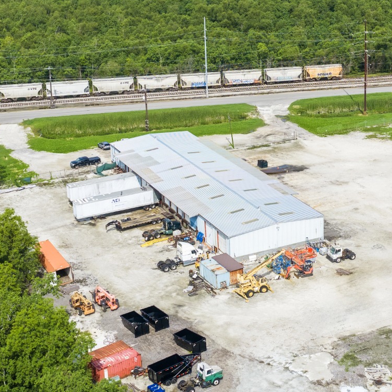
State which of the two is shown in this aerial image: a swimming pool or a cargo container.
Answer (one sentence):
It is a cargo container that can be seen here.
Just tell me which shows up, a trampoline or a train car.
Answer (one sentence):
The image shows a train car.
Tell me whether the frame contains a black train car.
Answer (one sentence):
No, there isn't any black train car down there.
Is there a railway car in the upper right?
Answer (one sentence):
Yes, you'll find a railway car in the upper right.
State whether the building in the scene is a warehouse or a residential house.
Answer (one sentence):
The building in the image is a warehouse.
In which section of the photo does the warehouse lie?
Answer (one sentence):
The warehouse is located in the center region of the scene.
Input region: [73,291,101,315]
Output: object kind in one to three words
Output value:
work vehicle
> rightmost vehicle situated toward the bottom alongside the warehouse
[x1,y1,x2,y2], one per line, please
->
[323,239,356,262]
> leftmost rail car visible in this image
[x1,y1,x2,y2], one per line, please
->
[0,84,41,102]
